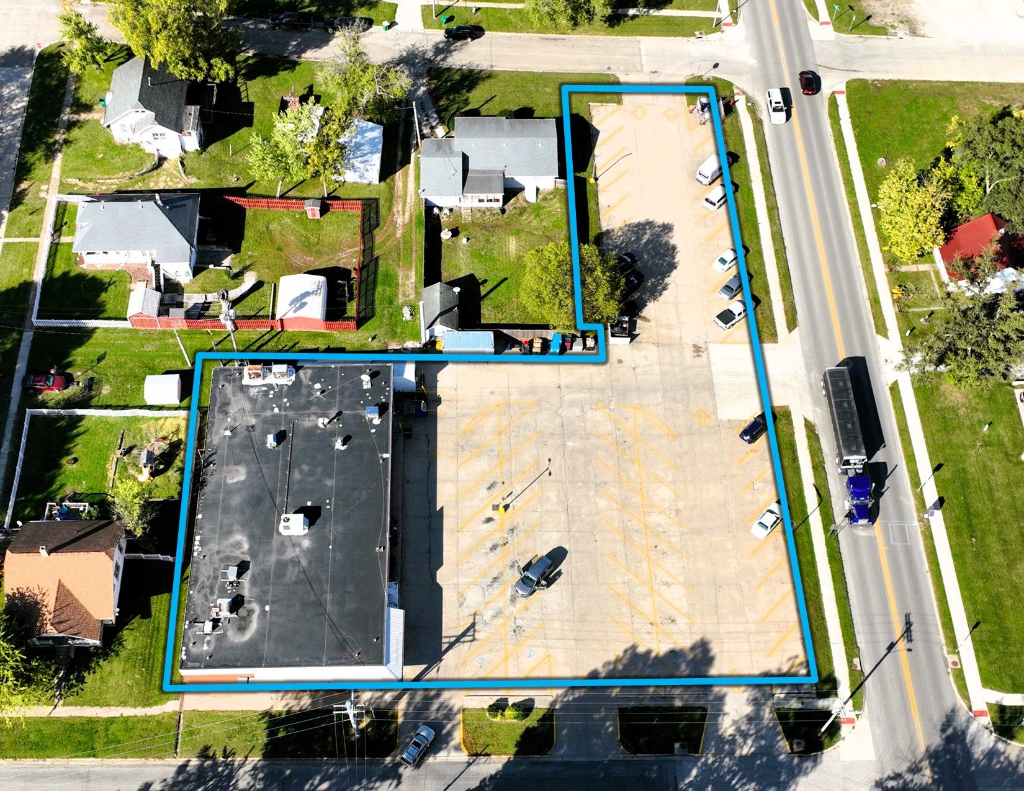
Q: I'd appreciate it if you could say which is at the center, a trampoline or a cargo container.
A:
cargo container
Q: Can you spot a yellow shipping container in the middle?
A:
No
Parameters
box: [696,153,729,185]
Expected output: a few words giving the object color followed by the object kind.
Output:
white vehicle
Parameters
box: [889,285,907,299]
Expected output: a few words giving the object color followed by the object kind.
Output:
yellow work vehicle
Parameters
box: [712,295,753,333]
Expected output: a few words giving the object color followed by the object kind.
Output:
white truck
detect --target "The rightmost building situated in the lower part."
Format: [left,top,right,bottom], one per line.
[179,357,417,693]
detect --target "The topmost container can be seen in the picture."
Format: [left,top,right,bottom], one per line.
[443,331,495,360]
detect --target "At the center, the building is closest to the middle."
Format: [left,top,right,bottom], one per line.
[417,279,459,346]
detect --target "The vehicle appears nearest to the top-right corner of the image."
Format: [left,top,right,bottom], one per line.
[800,70,817,98]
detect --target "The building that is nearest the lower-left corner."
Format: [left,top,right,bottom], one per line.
[2,521,138,669]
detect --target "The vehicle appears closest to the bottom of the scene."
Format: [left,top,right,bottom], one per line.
[396,719,436,772]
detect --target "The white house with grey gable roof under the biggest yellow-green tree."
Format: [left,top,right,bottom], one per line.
[103,57,221,167]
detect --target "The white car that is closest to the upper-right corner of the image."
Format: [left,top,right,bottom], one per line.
[768,90,787,121]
